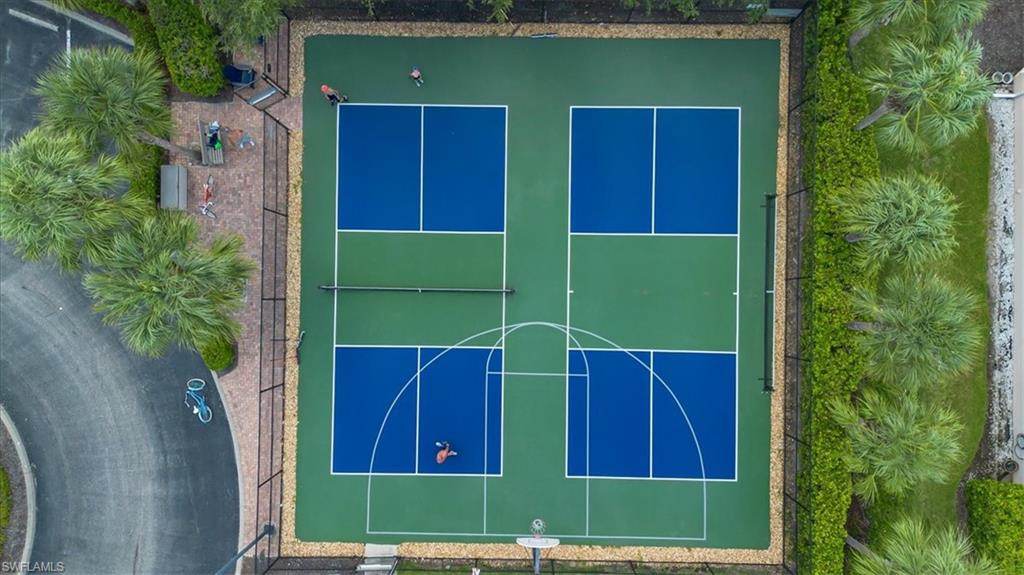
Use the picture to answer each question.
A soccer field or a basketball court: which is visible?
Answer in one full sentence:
It is a basketball court that can be seen here.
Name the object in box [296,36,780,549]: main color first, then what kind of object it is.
green sports court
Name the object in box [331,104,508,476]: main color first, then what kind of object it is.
blue sports court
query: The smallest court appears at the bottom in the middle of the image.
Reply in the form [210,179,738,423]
[367,321,706,541]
